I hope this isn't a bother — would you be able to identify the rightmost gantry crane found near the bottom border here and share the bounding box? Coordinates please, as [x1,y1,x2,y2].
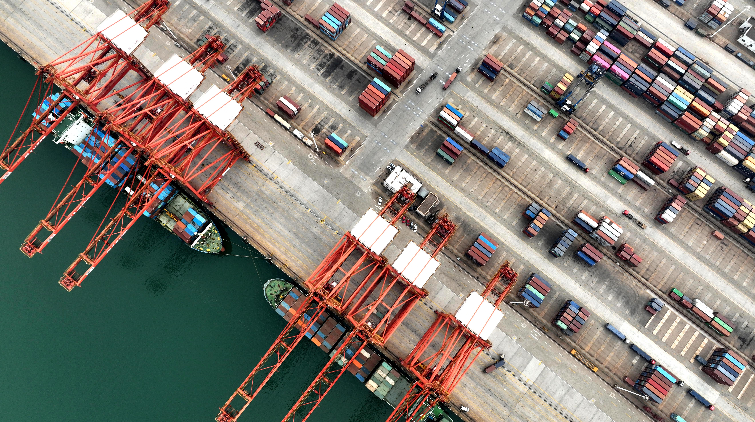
[383,263,521,422]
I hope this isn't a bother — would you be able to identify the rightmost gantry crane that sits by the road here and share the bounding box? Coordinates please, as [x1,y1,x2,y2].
[555,60,607,115]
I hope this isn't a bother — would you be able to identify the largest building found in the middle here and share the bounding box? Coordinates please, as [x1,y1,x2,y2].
[384,167,420,194]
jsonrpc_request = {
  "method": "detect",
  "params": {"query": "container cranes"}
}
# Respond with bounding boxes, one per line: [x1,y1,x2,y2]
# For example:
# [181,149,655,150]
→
[19,33,226,257]
[215,184,417,422]
[60,65,265,292]
[278,215,458,422]
[383,263,521,422]
[555,60,607,115]
[0,0,172,184]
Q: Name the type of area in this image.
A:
port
